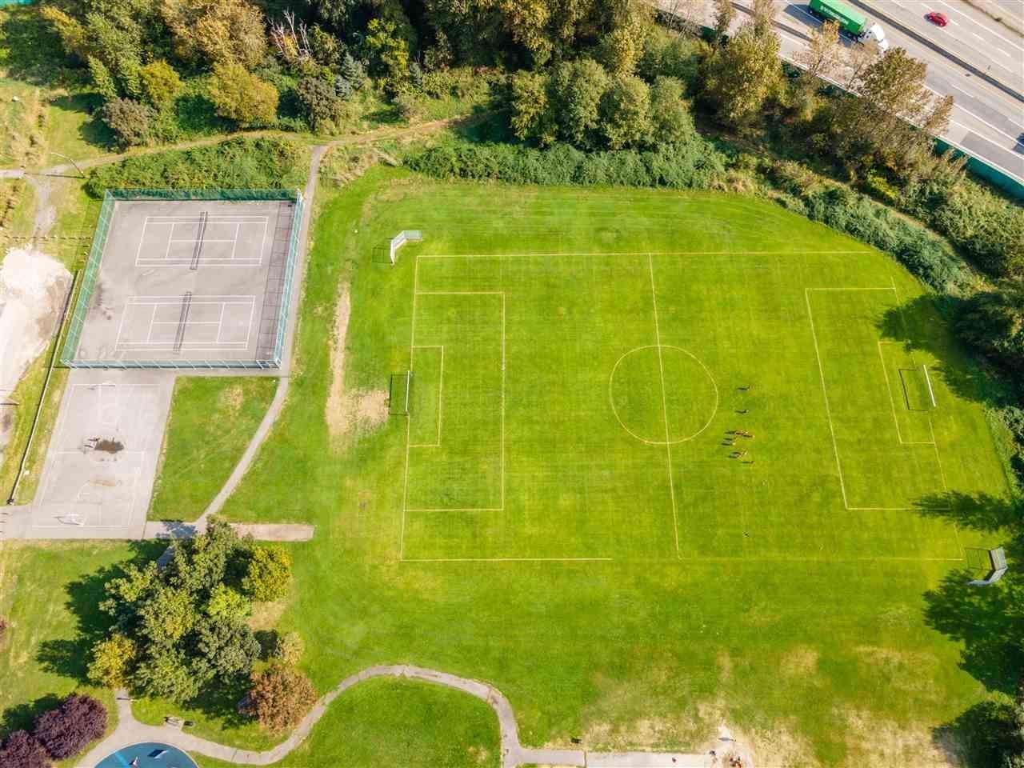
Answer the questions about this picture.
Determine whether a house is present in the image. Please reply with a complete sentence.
No, this view has no house in it.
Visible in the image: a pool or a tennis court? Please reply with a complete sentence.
Of the two, only a tennis court appears.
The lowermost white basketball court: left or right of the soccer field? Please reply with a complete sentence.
The lowermost white basketball court is to the left of the soccer field.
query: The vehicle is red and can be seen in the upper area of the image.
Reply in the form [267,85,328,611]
[928,11,950,25]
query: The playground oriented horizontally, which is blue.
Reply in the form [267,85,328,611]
[100,740,192,768]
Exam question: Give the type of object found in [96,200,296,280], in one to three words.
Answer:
tennis court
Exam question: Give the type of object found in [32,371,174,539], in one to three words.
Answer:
basketball court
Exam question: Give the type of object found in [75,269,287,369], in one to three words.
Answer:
tennis court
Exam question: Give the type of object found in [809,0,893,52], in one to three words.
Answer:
truck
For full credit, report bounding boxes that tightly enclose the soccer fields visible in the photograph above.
[393,249,963,567]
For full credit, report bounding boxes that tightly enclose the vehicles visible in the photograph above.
[928,11,950,25]
[809,0,893,52]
